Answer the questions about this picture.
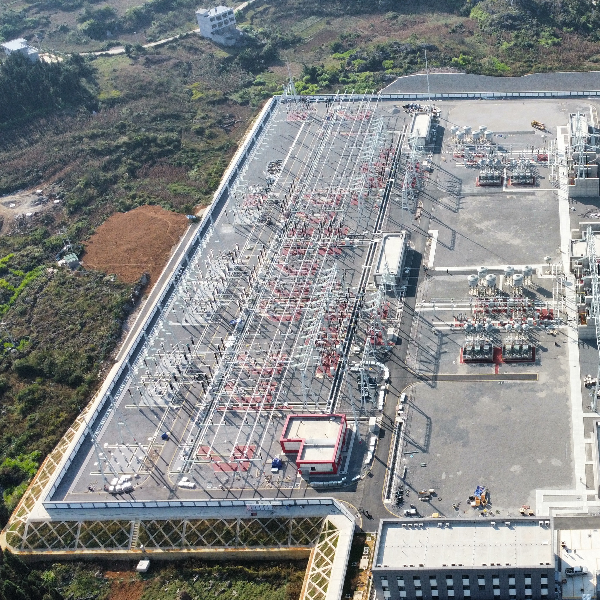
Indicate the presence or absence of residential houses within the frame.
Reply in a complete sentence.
Yes, the photo shows a residential house.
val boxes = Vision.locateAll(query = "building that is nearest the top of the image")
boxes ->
[192,8,235,42]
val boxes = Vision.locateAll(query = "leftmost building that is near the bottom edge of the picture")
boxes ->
[373,517,555,600]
